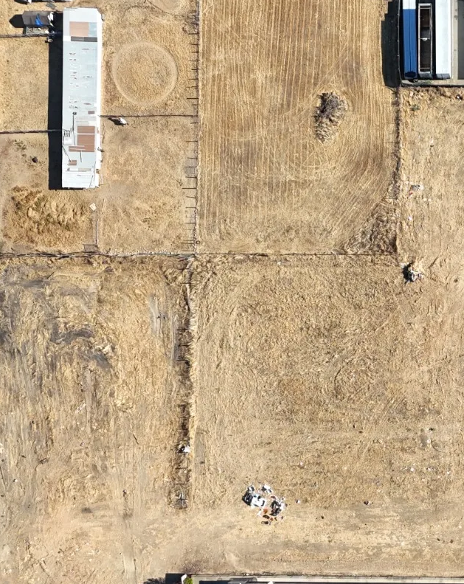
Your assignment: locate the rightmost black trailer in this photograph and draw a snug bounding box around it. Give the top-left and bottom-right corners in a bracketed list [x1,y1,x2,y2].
[419,2,433,76]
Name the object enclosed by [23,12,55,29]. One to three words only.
shed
